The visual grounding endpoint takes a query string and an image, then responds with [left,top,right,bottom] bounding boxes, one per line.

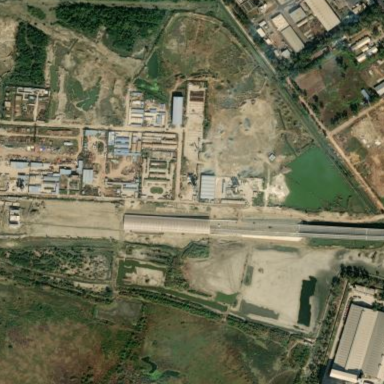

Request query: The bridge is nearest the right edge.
[300,224,384,239]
